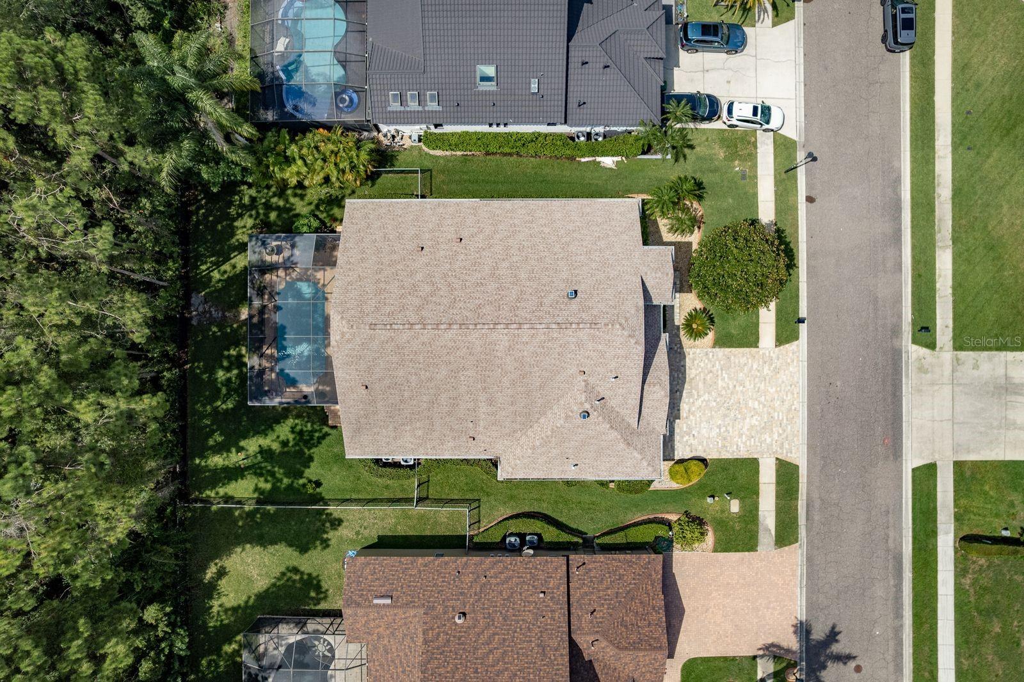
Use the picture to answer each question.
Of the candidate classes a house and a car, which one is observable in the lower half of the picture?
house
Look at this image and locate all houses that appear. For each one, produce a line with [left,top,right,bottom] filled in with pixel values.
[339,545,670,682]
[360,0,665,133]
[330,198,678,480]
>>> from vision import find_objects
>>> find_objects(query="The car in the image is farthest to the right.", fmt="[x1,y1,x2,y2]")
[882,0,922,51]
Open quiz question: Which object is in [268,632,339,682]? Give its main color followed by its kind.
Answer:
gray swimming pool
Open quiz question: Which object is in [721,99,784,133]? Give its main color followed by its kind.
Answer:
white car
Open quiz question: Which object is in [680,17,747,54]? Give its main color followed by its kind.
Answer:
blue car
